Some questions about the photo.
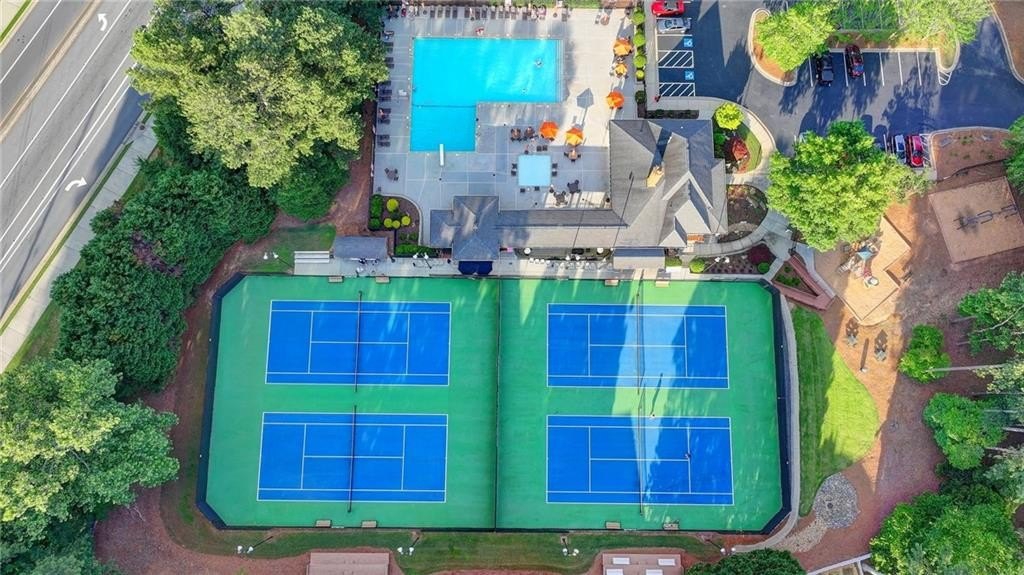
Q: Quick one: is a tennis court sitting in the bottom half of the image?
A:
Yes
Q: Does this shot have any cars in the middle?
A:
No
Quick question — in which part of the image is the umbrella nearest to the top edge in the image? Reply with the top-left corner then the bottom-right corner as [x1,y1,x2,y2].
[614,39,631,55]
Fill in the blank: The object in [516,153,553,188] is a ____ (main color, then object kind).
blue swimming pool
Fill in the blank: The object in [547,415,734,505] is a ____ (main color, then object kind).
blue tennis court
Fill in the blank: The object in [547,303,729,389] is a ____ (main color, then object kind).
blue tennis court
